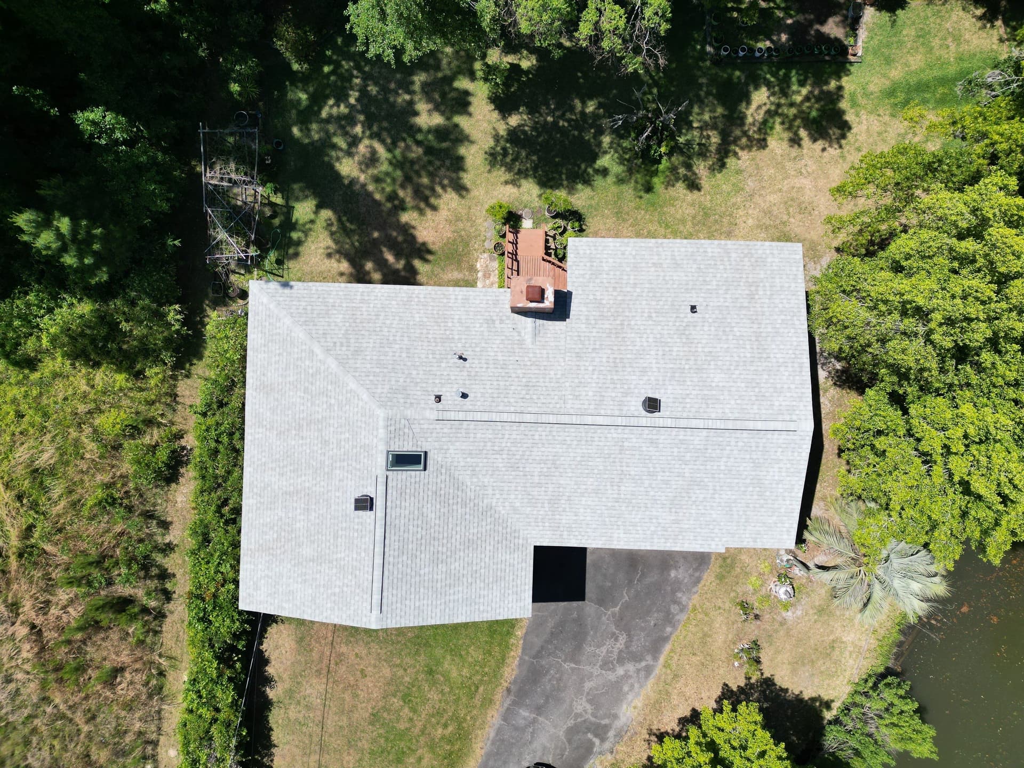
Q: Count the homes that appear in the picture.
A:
1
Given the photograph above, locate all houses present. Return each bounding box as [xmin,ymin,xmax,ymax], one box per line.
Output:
[240,237,815,629]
